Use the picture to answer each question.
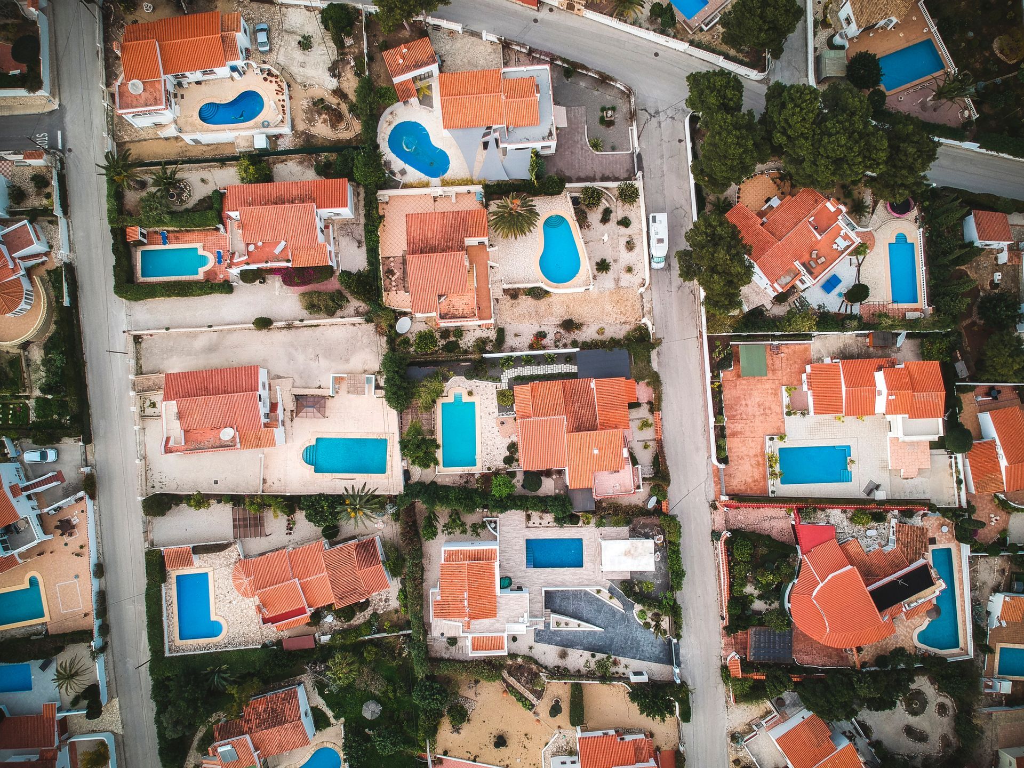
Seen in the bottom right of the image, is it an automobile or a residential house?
residential house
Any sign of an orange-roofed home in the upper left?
Yes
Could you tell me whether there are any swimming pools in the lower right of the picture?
Yes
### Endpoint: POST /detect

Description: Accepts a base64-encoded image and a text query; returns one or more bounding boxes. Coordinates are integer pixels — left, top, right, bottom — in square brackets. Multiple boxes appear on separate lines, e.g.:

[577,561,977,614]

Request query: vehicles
[253,22,272,55]
[23,448,60,465]
[648,211,670,270]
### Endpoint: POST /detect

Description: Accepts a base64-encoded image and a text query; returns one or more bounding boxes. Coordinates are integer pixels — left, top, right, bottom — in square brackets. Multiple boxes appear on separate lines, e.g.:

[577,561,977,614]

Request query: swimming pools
[136,243,213,281]
[884,227,923,307]
[439,388,481,471]
[777,443,855,487]
[172,569,227,645]
[524,537,586,571]
[298,435,390,477]
[876,34,951,96]
[291,741,348,768]
[0,664,30,693]
[0,577,48,626]
[386,118,452,180]
[535,209,586,288]
[913,544,966,655]
[668,0,713,23]
[995,643,1024,681]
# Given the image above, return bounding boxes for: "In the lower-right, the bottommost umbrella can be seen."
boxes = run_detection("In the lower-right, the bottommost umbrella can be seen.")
[924,603,940,618]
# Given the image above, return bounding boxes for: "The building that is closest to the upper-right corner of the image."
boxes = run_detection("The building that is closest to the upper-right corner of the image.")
[828,0,913,51]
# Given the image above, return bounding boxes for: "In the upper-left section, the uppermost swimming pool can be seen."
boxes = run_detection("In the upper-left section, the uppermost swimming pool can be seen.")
[193,84,269,130]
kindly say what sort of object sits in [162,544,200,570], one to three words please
building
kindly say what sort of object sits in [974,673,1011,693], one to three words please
shed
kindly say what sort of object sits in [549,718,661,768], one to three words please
house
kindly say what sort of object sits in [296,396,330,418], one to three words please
gazebo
